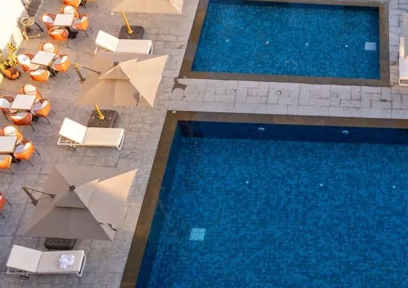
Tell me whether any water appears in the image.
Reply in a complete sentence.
Yes, some water is visible.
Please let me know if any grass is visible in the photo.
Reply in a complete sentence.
No, the scene doesn't show any grass.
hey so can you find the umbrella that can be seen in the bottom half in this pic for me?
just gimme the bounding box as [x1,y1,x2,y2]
[20,164,136,251]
